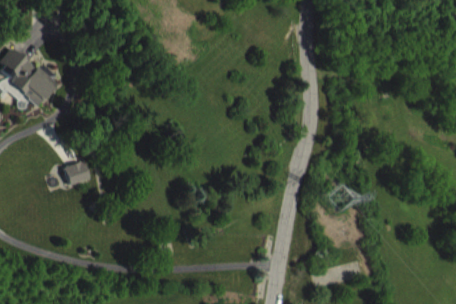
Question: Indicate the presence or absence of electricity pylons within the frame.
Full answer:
Yes, an electricity pylon can be made out from above.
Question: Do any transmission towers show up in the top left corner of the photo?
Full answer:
No, no transmission tower can be made out in the top left corner of the photo.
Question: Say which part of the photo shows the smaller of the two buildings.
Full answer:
The smaller of the two buildings is located in the left region of the scene.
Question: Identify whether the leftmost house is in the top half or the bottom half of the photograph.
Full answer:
The leftmost house sits in the top half of the picture.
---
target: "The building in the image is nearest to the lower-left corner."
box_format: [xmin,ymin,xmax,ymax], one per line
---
[62,162,91,186]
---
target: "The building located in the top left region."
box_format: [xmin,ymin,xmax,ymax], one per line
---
[0,50,58,112]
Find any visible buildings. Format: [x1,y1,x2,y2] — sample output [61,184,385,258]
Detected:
[0,50,58,112]
[62,162,91,186]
